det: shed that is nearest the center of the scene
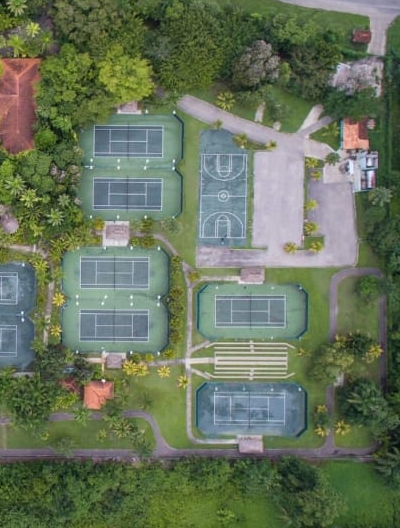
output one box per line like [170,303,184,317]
[238,267,265,283]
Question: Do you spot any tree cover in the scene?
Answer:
Yes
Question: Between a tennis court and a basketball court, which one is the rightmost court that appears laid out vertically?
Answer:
basketball court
